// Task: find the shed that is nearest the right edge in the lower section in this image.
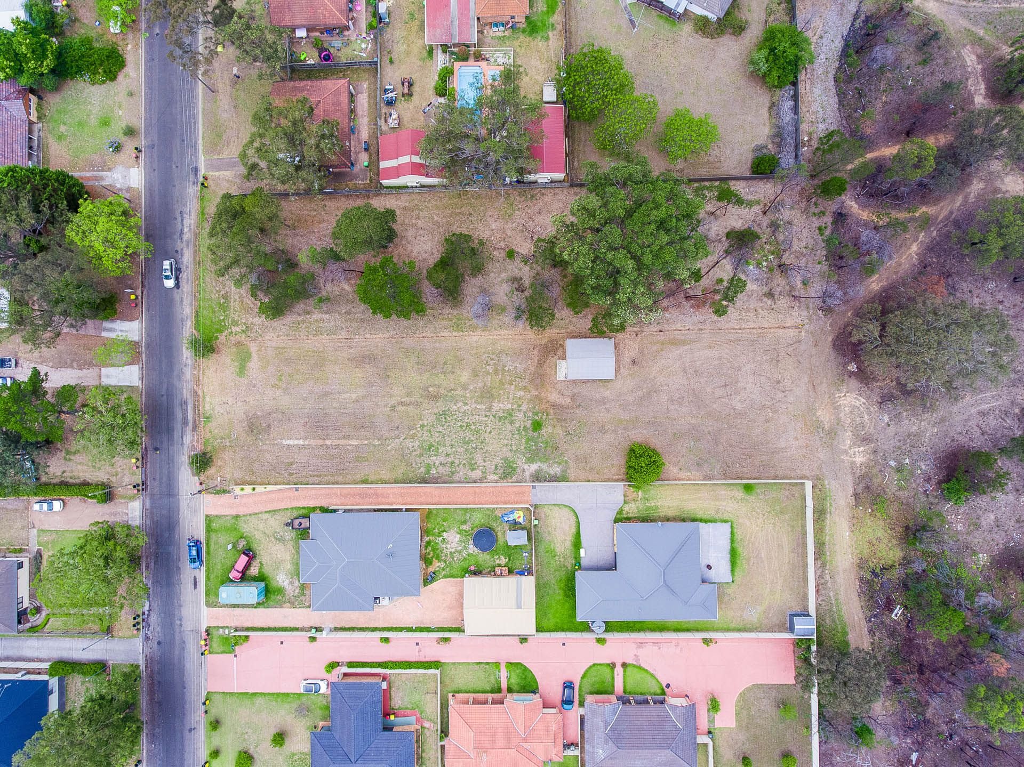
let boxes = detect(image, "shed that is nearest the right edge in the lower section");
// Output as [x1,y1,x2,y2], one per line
[790,613,815,636]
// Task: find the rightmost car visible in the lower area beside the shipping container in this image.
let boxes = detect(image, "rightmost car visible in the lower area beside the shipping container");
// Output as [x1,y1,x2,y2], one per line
[229,552,251,582]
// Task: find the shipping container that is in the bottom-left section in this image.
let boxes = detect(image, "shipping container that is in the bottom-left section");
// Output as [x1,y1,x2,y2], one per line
[217,579,263,605]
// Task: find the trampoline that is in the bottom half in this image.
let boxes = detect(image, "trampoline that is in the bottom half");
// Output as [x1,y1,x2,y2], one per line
[473,530,496,553]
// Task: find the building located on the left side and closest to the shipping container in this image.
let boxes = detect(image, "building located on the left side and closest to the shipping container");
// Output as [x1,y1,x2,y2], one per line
[299,510,421,612]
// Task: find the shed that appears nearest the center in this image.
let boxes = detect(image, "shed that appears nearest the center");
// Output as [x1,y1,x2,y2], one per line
[566,338,615,380]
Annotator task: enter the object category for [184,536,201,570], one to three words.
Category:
car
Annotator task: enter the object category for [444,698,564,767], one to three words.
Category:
house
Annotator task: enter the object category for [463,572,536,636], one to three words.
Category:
building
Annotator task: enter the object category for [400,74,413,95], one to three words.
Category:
vehicle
